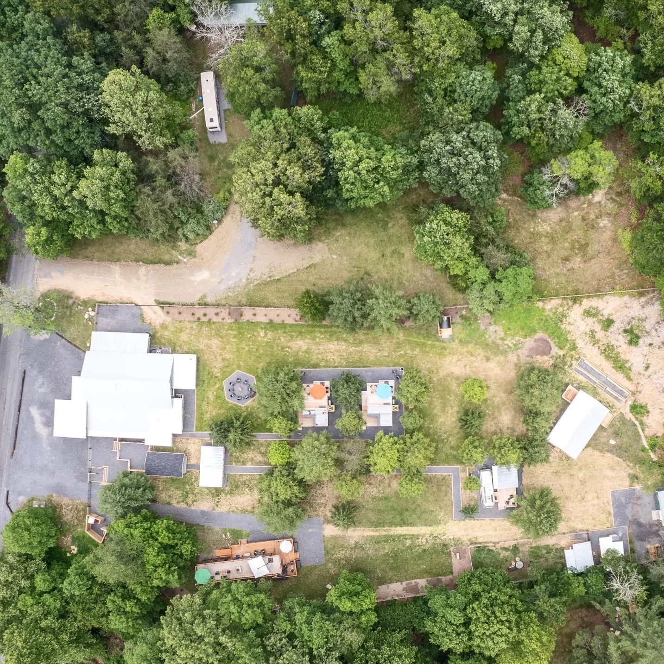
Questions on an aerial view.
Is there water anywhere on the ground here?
No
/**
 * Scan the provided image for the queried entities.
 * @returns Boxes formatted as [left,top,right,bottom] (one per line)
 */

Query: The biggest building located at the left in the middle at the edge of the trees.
[53,331,199,447]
